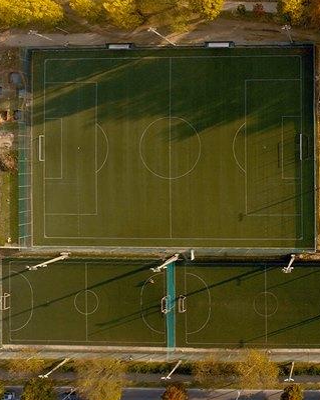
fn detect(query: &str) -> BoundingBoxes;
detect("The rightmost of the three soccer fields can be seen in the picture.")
[175,259,320,350]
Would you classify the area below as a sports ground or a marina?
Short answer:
sports ground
